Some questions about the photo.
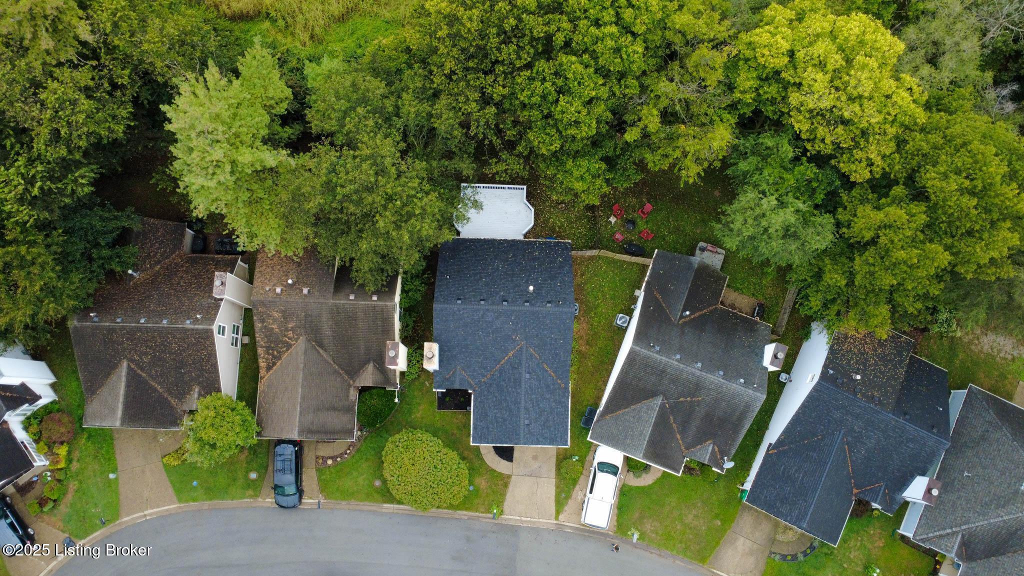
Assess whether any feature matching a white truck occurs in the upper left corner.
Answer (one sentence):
No, there's no white truck to be seen in the upper left corner.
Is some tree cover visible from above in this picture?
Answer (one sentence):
Yes, there is tree cover in the image.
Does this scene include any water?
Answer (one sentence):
No, there's no water in this view.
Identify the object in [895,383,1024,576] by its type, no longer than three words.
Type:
house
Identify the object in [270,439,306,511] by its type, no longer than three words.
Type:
car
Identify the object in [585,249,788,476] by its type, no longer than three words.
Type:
house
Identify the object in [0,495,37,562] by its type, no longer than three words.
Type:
vehicle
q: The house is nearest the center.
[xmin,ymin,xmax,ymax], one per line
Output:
[425,235,577,448]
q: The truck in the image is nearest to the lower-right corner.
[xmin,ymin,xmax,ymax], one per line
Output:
[583,444,625,532]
